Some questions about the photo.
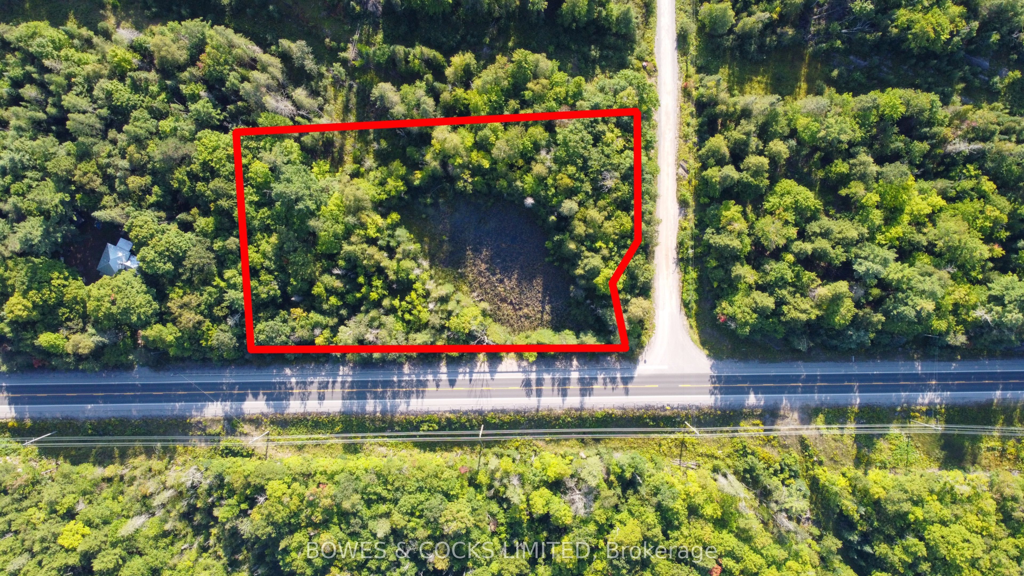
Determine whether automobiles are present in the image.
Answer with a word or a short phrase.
No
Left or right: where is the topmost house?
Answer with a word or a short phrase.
left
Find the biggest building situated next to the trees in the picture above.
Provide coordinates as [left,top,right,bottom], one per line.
[97,238,143,279]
